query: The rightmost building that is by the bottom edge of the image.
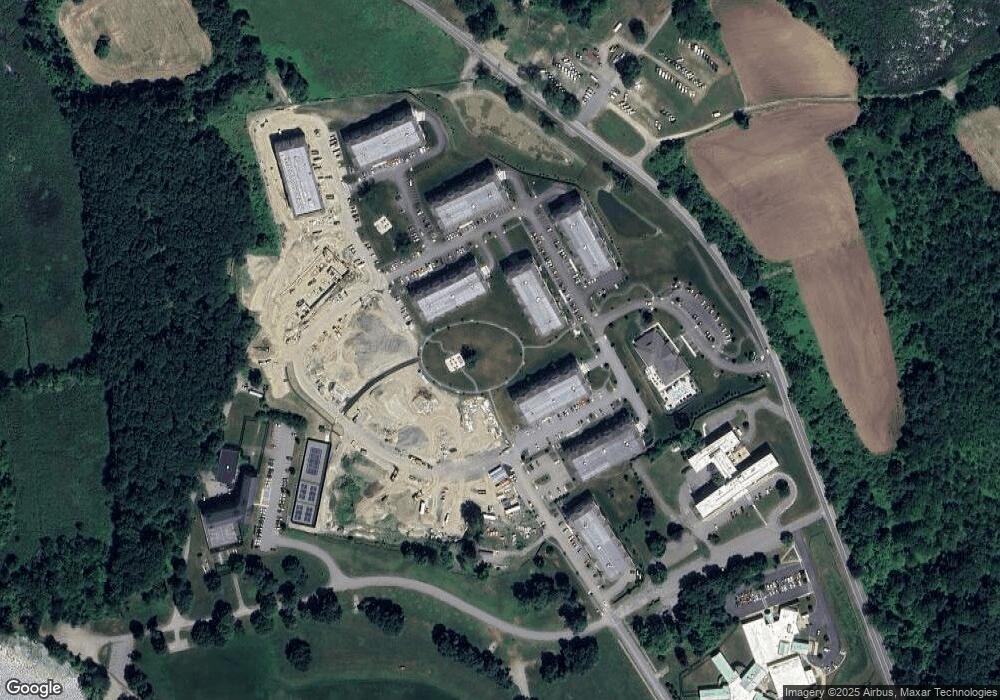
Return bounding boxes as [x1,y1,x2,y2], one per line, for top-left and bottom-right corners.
[699,606,816,700]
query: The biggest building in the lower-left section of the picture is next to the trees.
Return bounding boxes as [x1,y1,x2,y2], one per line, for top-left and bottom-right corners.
[201,475,257,553]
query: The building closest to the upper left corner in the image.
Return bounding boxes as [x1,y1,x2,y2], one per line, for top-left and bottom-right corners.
[273,140,327,220]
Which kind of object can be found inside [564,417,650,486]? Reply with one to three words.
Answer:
building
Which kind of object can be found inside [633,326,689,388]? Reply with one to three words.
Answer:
building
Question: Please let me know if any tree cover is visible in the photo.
Yes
